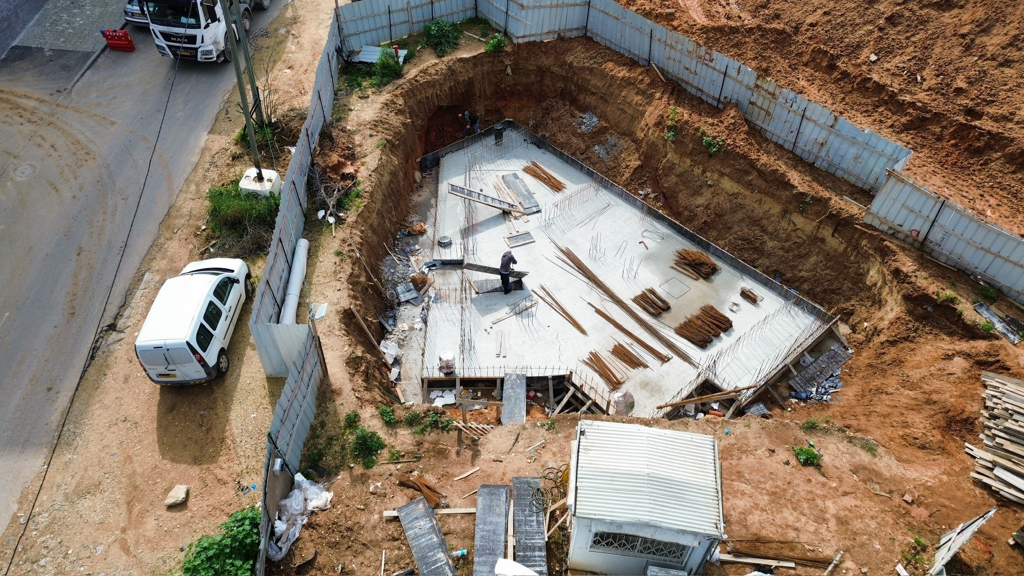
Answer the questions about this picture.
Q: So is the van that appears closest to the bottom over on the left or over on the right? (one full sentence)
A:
The van that appears closest to the bottom is on the left side of the image.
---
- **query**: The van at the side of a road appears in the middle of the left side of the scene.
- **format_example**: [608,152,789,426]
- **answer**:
[132,253,252,392]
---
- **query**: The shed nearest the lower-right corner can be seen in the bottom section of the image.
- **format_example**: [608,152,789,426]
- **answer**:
[569,404,733,576]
